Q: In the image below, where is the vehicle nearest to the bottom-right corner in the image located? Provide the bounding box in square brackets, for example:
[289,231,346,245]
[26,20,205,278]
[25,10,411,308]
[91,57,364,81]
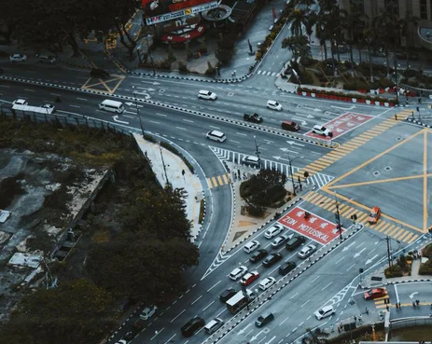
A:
[362,288,387,300]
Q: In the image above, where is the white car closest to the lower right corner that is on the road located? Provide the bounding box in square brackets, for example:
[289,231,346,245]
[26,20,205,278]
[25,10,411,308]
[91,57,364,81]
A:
[314,303,337,322]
